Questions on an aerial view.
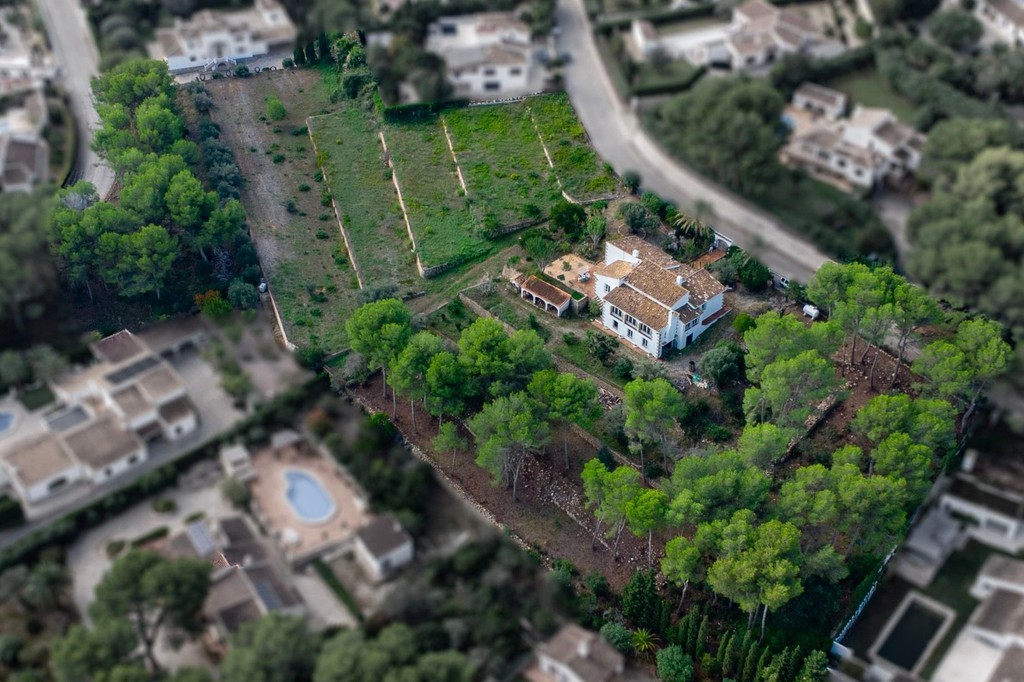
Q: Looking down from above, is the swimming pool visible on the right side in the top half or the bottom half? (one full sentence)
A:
The swimming pool visible on the right side is in the bottom half of the image.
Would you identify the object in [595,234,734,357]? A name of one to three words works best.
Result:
house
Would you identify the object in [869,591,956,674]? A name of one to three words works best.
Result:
swimming pool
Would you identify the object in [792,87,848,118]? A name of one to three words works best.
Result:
building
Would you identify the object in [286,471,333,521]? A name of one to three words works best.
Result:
swimming pool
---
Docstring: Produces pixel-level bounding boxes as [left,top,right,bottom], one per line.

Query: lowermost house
[535,624,626,682]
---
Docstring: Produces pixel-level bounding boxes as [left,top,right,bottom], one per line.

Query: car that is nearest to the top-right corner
[773,276,796,288]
